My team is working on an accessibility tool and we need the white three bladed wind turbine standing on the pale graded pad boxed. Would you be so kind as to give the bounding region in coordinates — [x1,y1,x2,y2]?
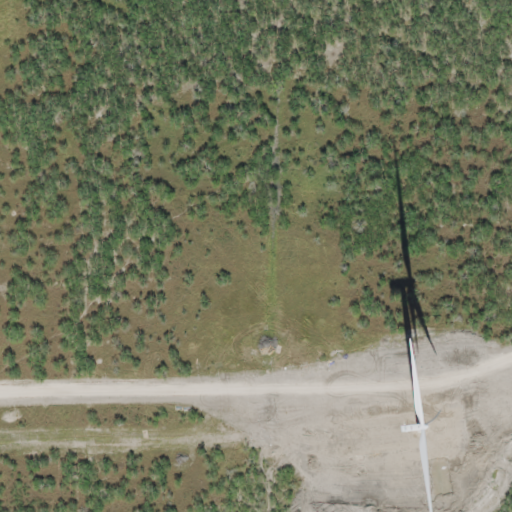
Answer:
[401,345,442,512]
